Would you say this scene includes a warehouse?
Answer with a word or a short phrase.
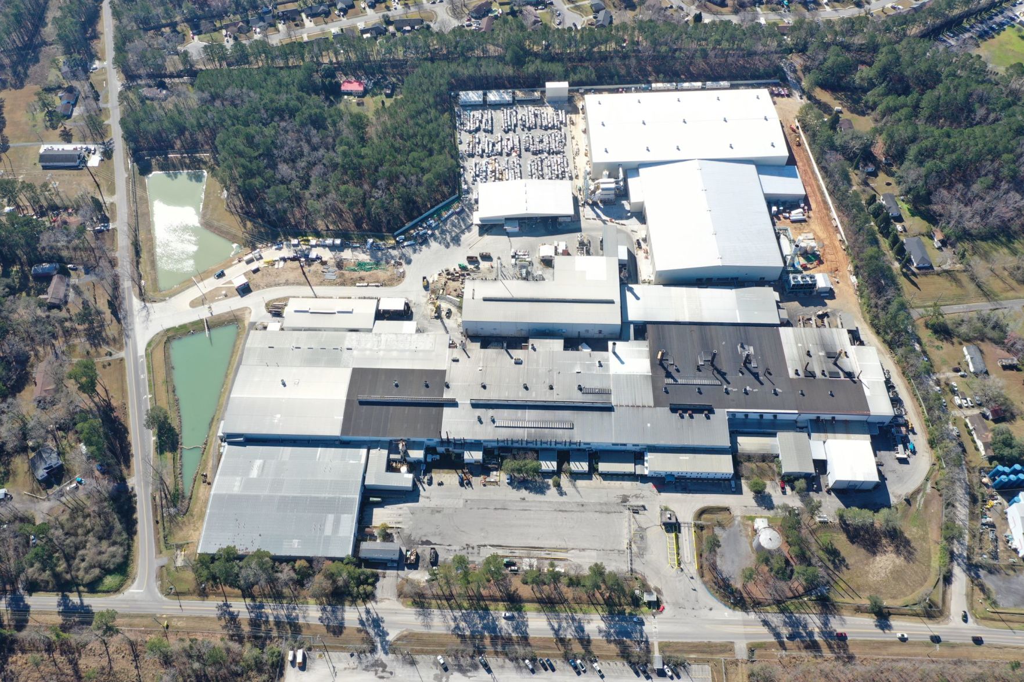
Yes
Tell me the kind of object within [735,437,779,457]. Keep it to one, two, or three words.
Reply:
shed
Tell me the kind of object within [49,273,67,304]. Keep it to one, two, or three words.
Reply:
house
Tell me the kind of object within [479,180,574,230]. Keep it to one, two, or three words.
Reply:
shed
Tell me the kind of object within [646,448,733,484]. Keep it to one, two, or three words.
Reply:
building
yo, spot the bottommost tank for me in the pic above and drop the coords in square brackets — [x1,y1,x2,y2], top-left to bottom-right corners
[754,528,782,556]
